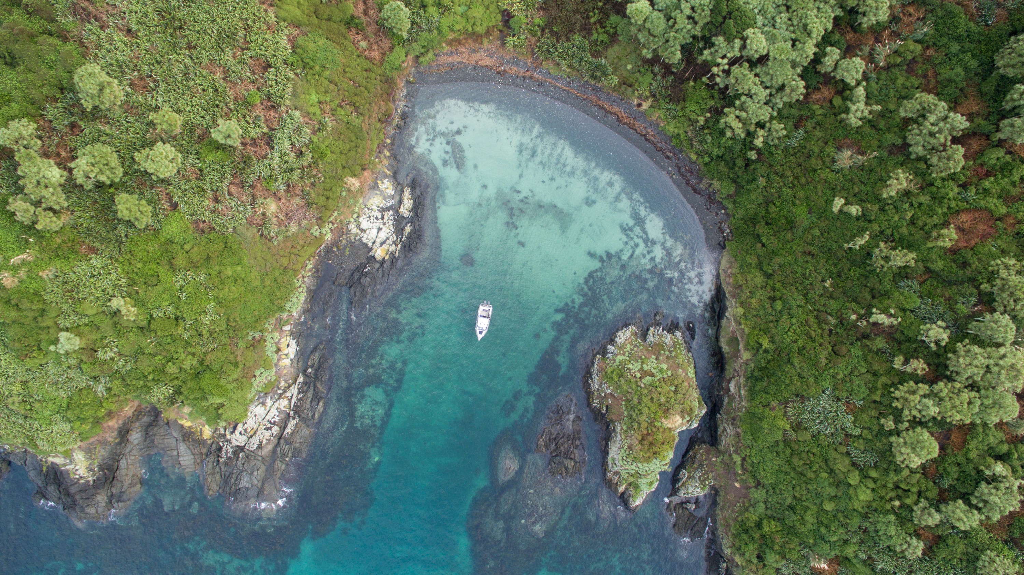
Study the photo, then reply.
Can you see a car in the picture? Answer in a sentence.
No, no car is visible in the scene.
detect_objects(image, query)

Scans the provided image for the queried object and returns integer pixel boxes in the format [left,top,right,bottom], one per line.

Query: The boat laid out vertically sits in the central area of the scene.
[476,301,492,342]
